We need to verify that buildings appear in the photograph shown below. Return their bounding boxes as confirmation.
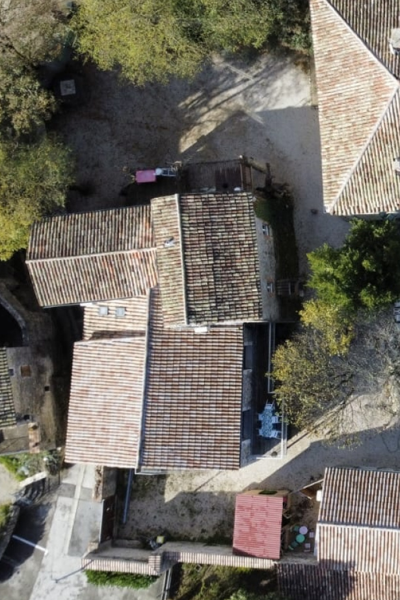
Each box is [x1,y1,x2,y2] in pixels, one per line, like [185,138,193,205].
[233,487,292,559]
[277,461,400,600]
[25,191,287,474]
[0,346,53,431]
[309,0,400,226]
